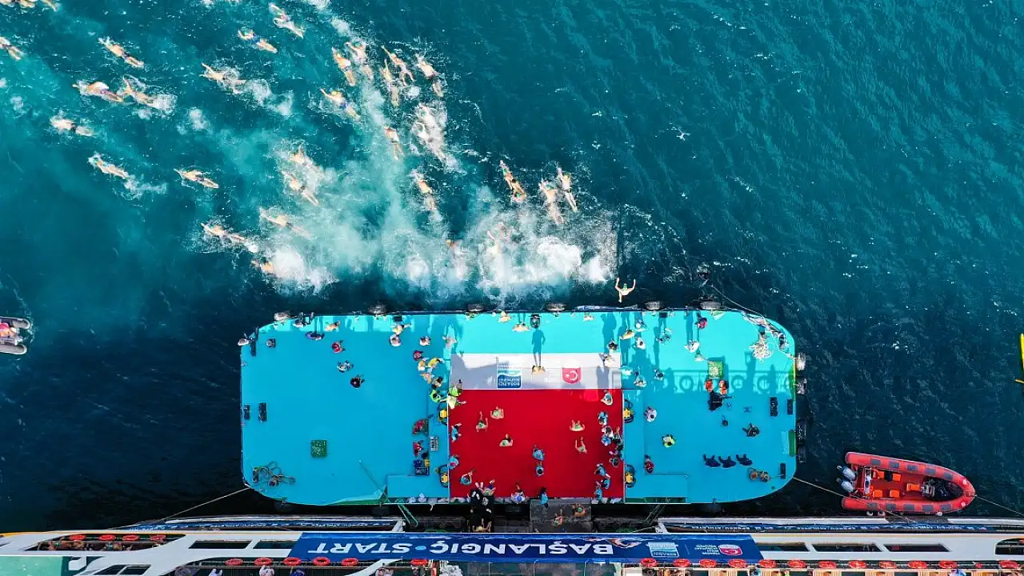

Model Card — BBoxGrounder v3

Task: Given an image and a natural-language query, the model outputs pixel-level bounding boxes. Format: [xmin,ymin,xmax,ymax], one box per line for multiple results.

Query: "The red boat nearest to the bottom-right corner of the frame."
[830,452,978,510]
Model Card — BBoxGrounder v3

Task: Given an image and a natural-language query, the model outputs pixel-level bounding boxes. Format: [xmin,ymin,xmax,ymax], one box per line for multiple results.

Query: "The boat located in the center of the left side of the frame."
[0,314,36,355]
